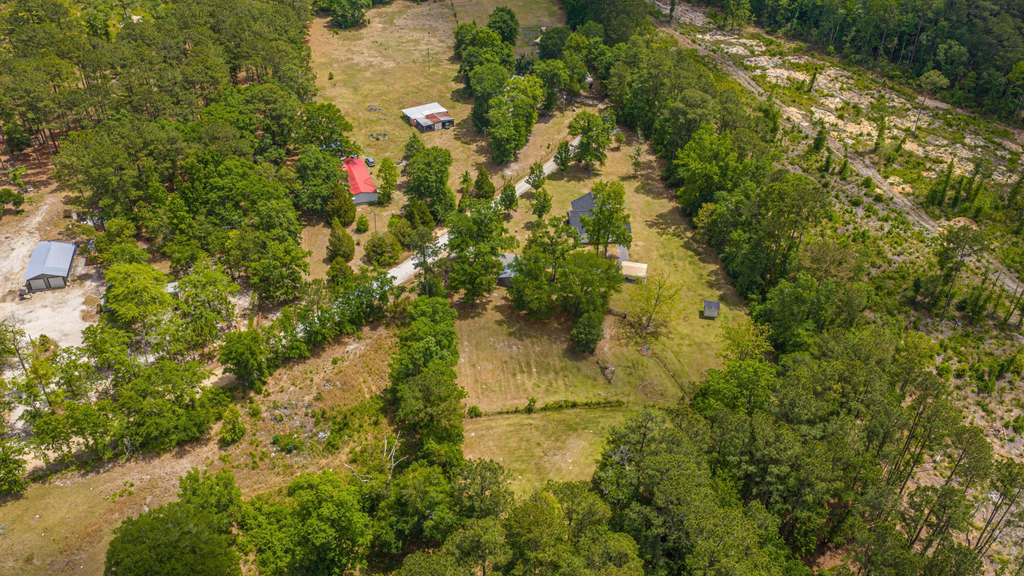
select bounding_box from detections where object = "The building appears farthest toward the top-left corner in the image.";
[19,242,87,295]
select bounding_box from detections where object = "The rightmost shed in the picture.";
[702,299,721,318]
